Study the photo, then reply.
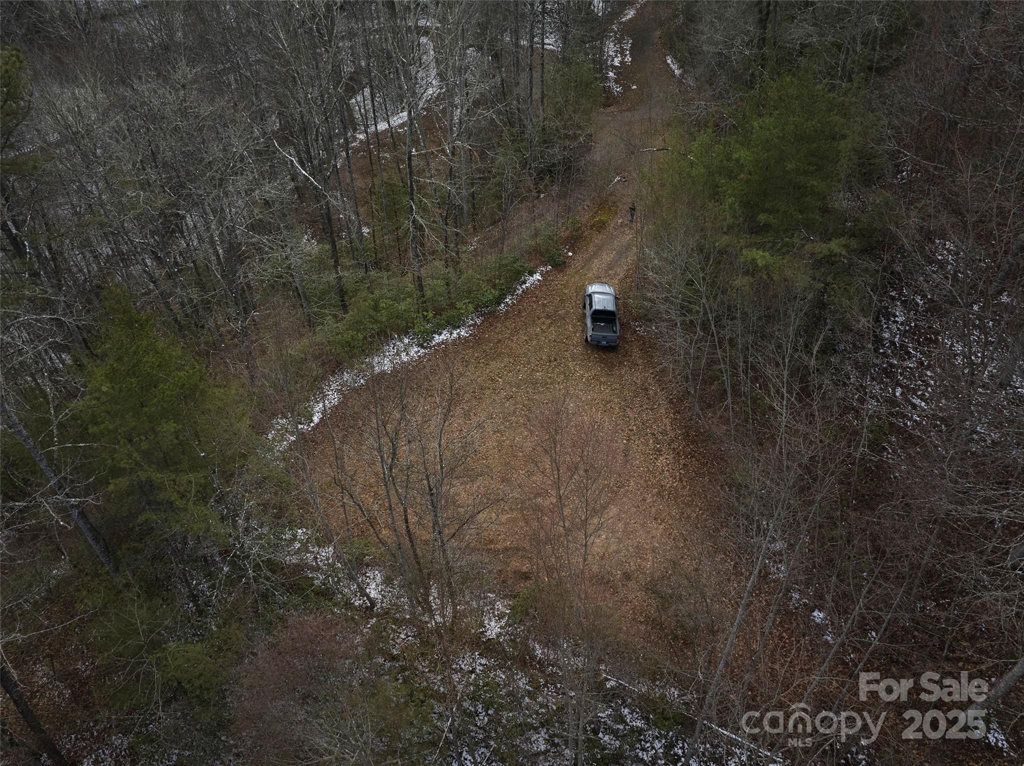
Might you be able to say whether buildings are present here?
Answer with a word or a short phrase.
No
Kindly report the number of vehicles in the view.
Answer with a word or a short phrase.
1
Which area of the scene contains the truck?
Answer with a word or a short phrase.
center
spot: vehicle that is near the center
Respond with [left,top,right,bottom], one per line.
[585,281,623,347]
